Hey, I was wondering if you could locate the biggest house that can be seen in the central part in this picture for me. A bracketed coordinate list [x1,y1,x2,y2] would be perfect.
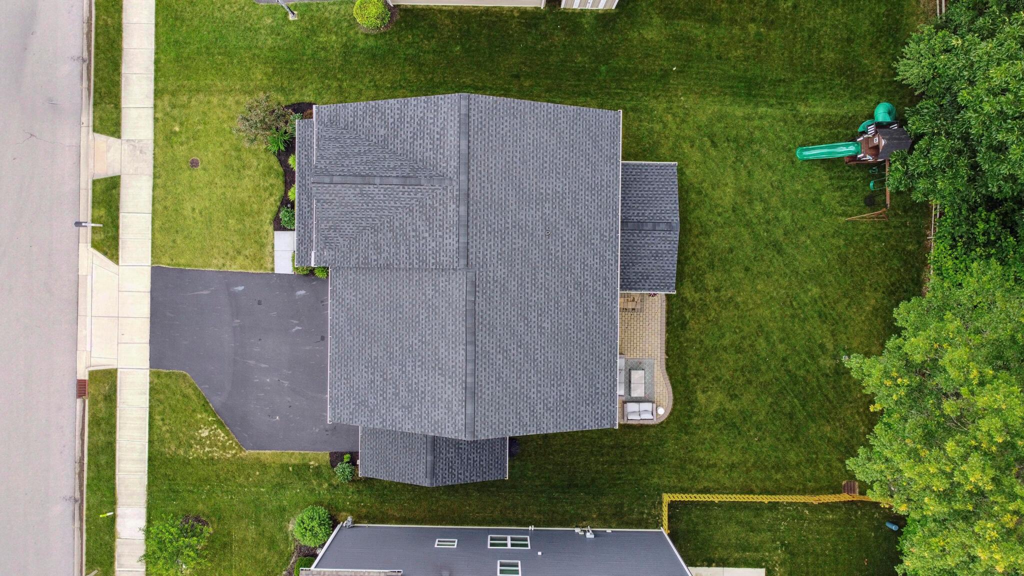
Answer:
[296,93,679,487]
